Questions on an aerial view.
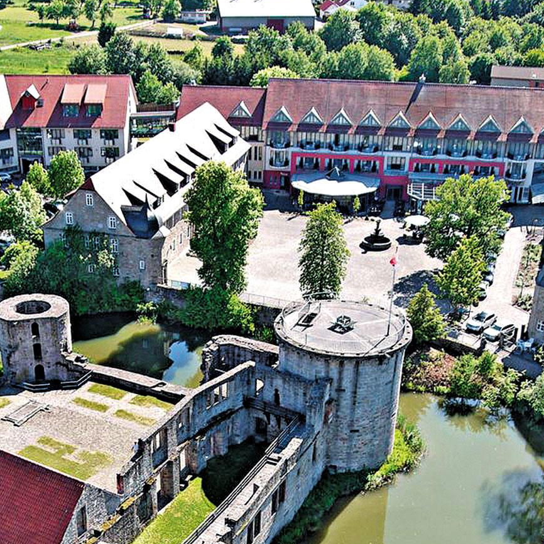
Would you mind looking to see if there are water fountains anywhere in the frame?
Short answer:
Yes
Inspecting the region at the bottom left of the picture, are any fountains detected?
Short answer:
No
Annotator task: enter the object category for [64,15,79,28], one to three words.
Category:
vehicle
